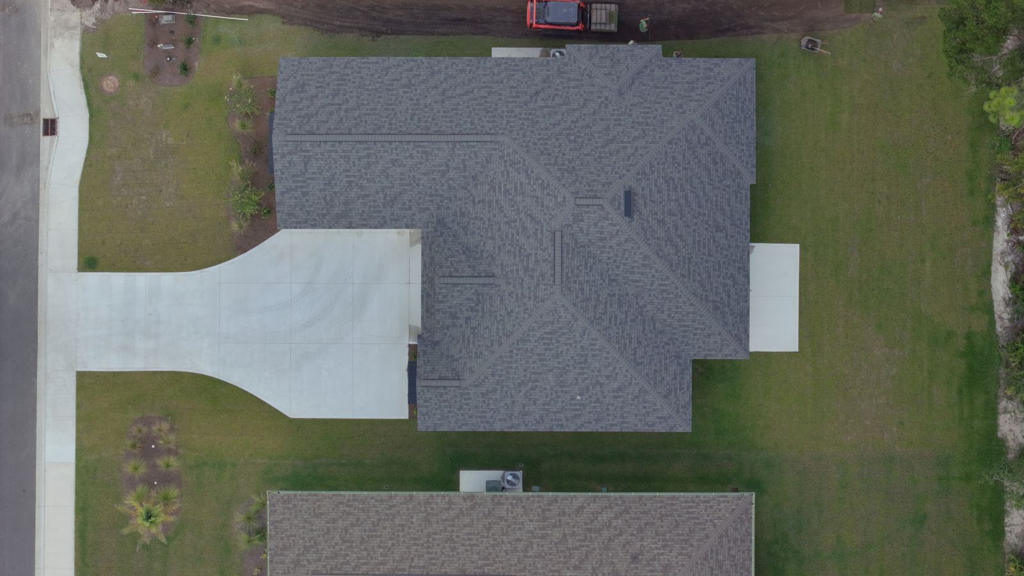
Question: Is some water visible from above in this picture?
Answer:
No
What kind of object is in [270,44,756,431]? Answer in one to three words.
house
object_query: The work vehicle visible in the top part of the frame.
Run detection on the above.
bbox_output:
[526,0,592,39]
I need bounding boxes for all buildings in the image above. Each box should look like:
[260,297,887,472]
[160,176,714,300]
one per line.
[268,490,755,576]
[270,44,756,431]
